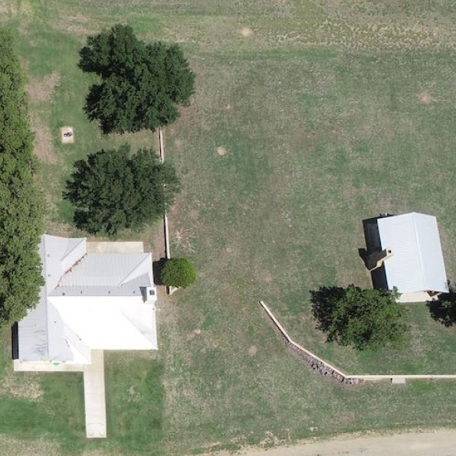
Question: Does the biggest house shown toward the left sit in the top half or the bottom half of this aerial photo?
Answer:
bottom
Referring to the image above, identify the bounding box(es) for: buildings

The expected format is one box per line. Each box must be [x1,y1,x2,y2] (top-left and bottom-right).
[361,212,449,302]
[17,233,160,367]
